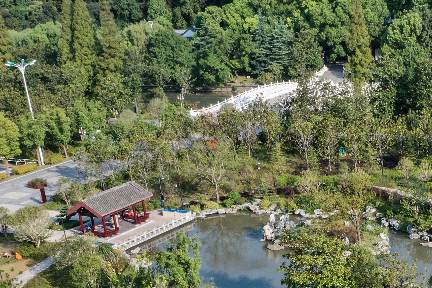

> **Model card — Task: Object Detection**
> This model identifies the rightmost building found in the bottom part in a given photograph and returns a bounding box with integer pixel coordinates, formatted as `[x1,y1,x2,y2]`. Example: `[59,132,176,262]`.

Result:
[64,183,155,238]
